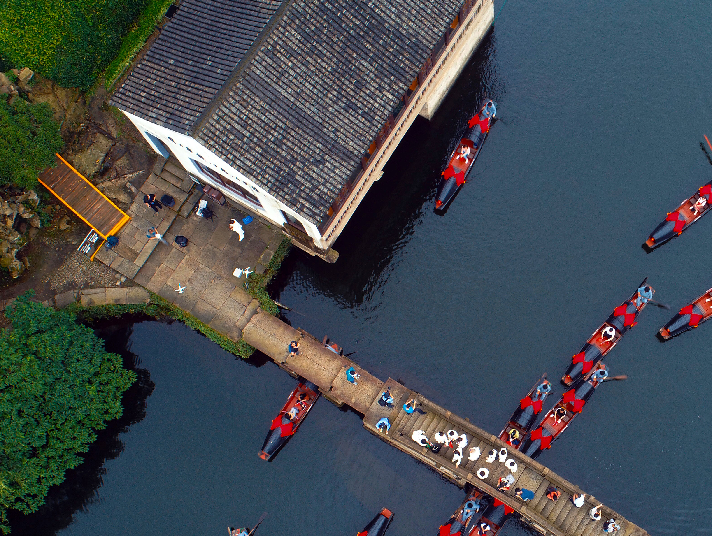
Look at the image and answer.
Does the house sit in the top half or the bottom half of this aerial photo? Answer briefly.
top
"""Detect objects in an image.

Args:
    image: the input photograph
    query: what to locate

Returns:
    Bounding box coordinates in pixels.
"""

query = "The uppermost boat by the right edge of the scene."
[641,180,712,252]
